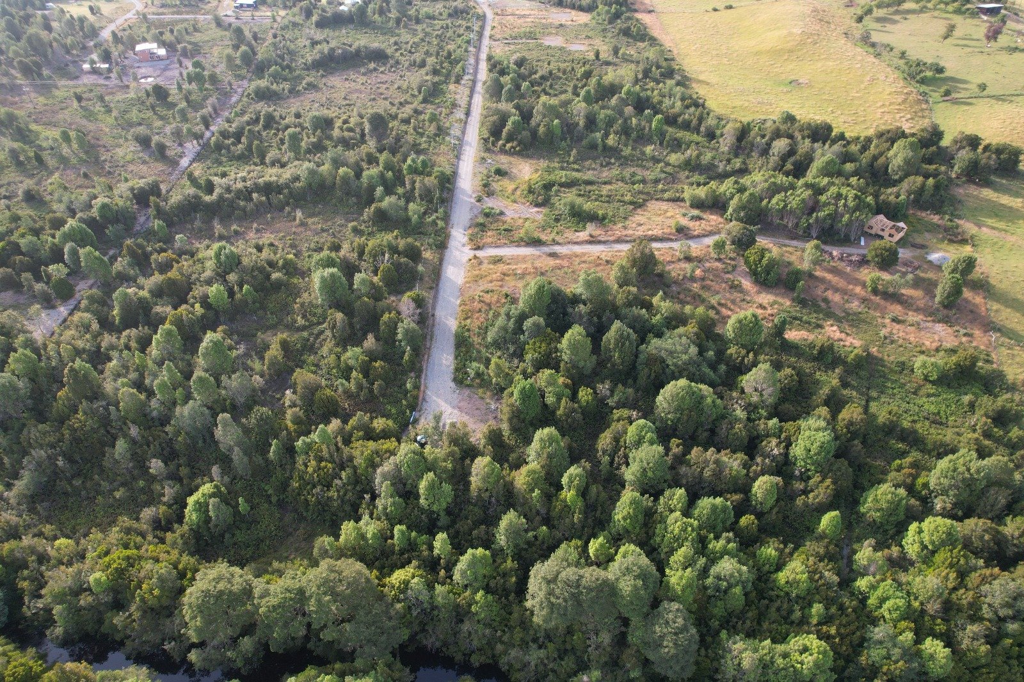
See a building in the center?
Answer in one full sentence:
No, in the center there is no building.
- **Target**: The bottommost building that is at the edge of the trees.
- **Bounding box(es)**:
[863,210,908,240]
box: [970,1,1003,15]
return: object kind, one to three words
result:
shed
